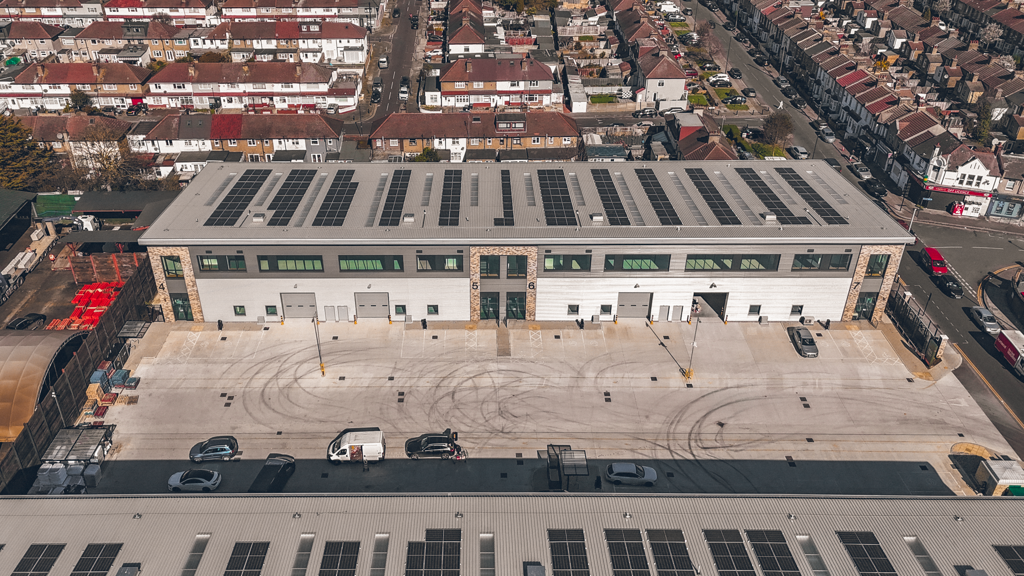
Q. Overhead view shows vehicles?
Yes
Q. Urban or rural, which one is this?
urban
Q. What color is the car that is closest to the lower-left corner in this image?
black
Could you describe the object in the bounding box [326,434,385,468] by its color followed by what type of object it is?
white van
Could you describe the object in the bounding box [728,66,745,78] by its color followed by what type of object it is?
black vehicle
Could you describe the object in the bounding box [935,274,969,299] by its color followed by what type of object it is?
black car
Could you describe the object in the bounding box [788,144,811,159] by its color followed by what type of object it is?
gray car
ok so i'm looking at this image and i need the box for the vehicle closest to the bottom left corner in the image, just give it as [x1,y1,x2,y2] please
[166,470,221,494]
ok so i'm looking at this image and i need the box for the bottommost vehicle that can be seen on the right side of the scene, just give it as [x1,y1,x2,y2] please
[605,464,659,489]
